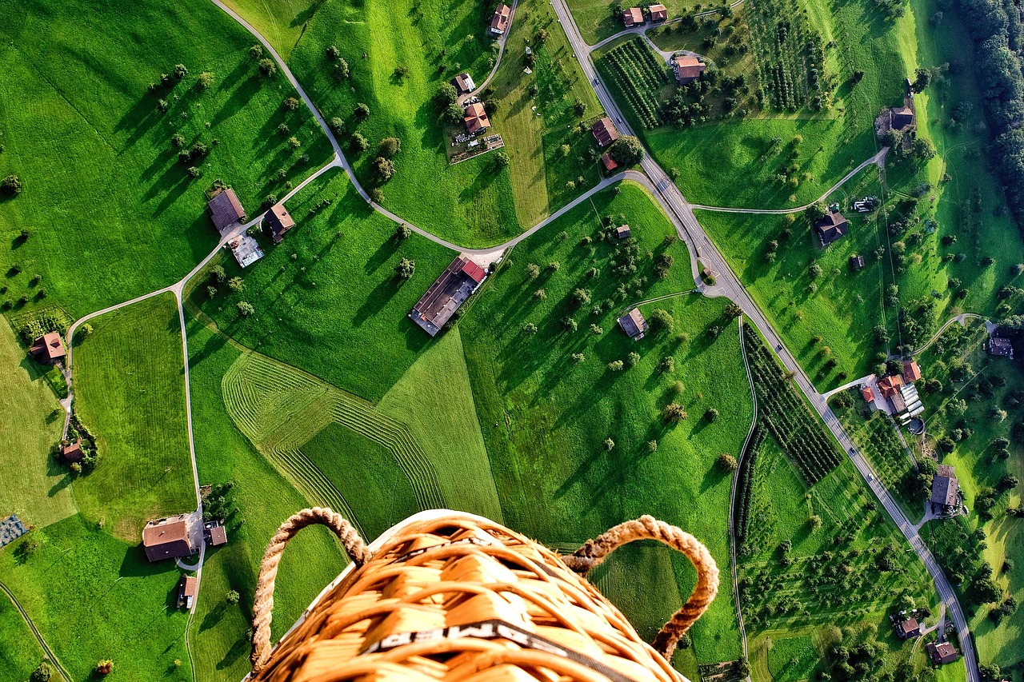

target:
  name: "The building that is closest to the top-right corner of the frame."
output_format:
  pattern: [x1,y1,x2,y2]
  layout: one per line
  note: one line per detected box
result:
[888,106,918,130]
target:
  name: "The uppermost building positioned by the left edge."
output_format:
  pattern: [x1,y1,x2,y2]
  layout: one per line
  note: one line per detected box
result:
[28,331,67,362]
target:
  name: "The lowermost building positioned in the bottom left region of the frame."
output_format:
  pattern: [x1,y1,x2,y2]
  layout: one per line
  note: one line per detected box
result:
[180,575,199,598]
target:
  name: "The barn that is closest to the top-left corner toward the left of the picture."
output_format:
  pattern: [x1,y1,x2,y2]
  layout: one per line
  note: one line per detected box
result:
[206,188,247,233]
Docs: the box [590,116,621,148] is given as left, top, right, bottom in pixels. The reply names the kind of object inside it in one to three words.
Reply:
barn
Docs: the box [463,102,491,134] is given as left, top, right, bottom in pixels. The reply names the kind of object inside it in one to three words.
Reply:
house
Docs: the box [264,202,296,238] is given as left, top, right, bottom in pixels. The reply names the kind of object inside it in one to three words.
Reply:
house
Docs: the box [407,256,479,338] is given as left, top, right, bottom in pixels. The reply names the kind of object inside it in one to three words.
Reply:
barn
